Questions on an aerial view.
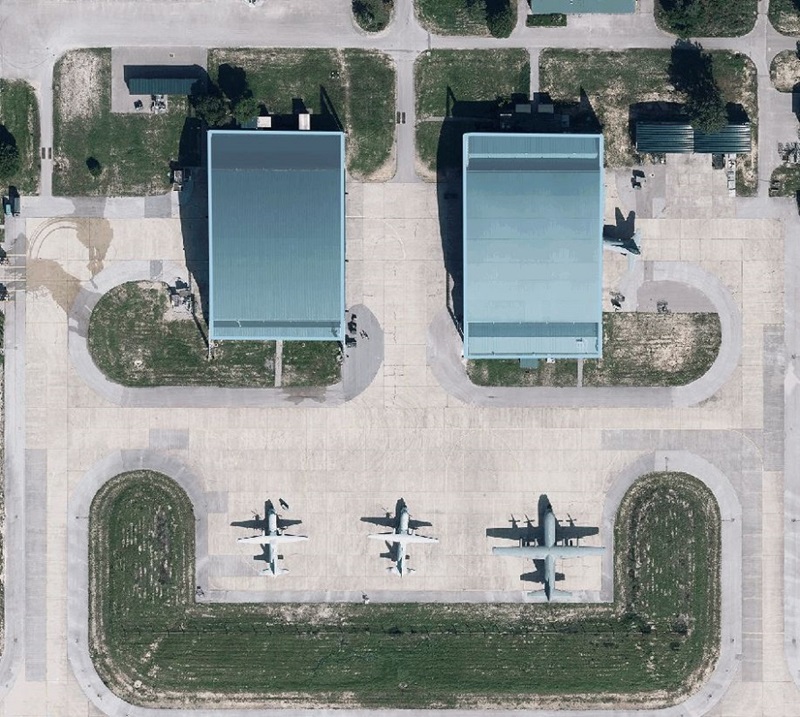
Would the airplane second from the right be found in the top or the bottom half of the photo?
bottom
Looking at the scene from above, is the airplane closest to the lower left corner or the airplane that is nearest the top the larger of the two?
the airplane closest to the lower left corner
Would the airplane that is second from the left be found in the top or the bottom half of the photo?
bottom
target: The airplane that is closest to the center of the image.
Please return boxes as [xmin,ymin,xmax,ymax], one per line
[367,508,439,577]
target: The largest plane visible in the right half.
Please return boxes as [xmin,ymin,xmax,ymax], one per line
[493,505,606,601]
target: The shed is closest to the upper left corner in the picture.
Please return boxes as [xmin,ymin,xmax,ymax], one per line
[129,78,197,95]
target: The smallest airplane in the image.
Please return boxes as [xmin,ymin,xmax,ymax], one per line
[605,231,642,269]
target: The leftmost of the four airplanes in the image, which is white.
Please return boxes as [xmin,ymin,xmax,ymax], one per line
[238,509,309,577]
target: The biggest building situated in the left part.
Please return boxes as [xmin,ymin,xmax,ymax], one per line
[207,129,345,362]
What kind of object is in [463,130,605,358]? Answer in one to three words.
hangar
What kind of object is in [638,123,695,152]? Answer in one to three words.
shed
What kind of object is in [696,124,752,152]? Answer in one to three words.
shed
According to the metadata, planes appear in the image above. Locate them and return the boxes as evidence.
[367,508,439,577]
[238,509,309,577]
[493,505,606,601]
[605,231,642,269]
